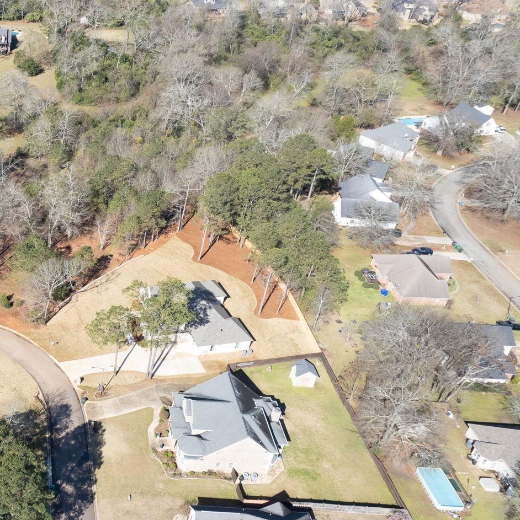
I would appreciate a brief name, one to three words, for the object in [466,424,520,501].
house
